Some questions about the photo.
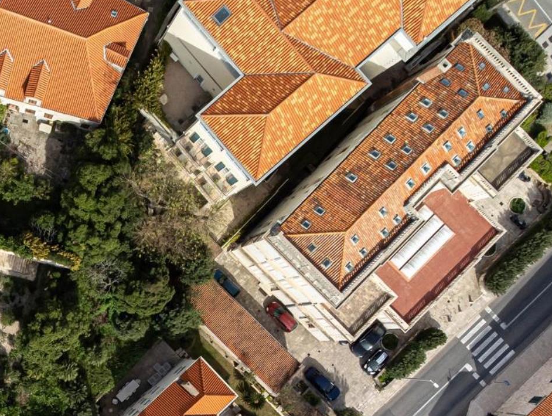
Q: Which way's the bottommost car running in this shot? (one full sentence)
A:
The bottommost car is oriented diagonally.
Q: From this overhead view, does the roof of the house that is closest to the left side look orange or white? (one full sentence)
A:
The roof of the house that is closest to the left side is orange.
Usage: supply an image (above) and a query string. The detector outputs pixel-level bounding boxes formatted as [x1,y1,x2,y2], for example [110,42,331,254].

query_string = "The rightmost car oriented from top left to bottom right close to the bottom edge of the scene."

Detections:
[302,363,339,403]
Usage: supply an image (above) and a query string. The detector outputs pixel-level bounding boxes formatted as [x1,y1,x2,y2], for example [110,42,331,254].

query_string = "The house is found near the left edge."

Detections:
[0,0,149,139]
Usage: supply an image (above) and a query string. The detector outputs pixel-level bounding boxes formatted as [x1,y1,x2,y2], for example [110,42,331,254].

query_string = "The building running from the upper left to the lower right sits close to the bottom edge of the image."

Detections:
[188,280,300,395]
